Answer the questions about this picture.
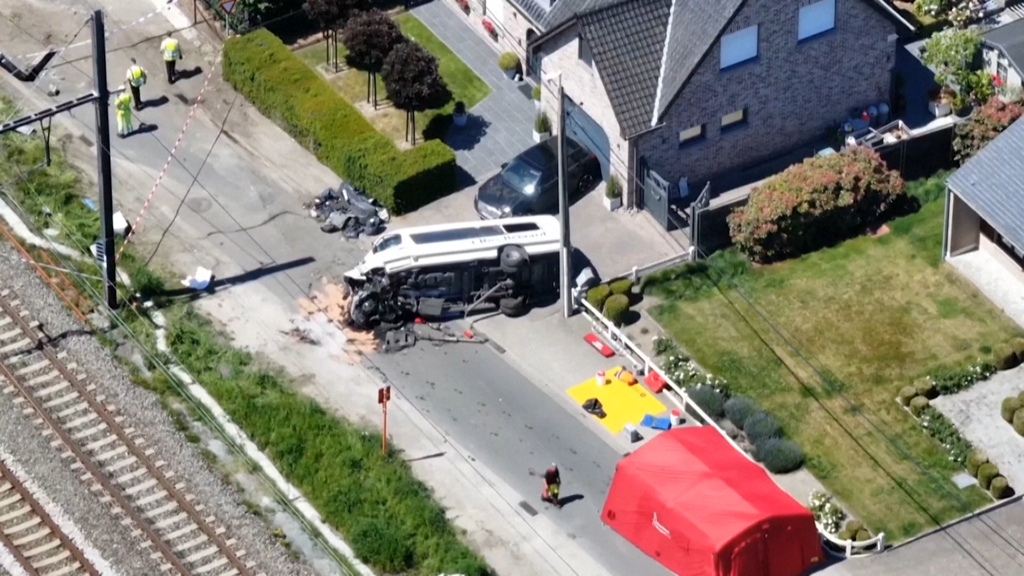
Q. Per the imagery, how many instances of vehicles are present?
two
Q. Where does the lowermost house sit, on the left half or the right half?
right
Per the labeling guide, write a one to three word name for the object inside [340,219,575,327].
vehicle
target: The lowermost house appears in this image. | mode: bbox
[941,115,1024,288]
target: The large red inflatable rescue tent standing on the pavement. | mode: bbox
[601,429,825,576]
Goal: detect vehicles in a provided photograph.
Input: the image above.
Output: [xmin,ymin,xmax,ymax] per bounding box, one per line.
[475,126,603,224]
[340,219,575,327]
